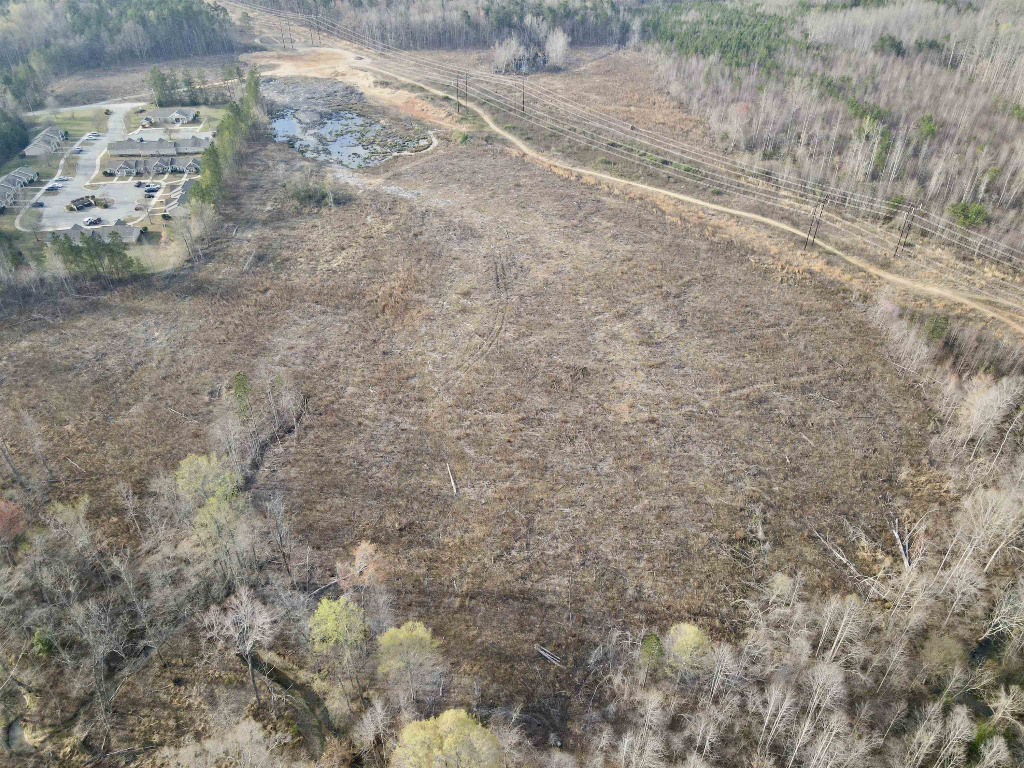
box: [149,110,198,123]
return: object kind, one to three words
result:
building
